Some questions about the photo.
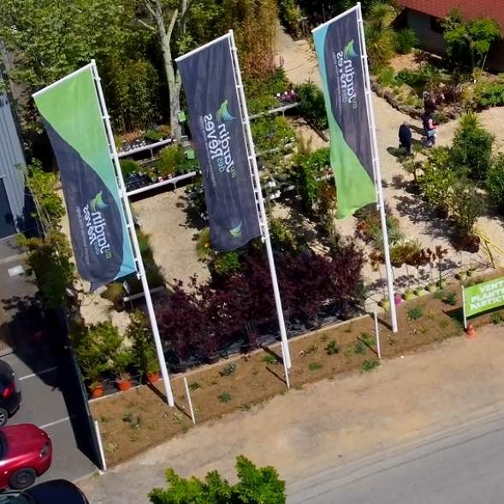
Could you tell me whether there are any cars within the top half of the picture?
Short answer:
No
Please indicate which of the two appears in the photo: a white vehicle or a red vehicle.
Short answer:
red vehicle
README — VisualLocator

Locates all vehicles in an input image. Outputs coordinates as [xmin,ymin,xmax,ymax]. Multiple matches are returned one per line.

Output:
[0,359,29,429]
[0,478,89,504]
[0,430,49,485]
